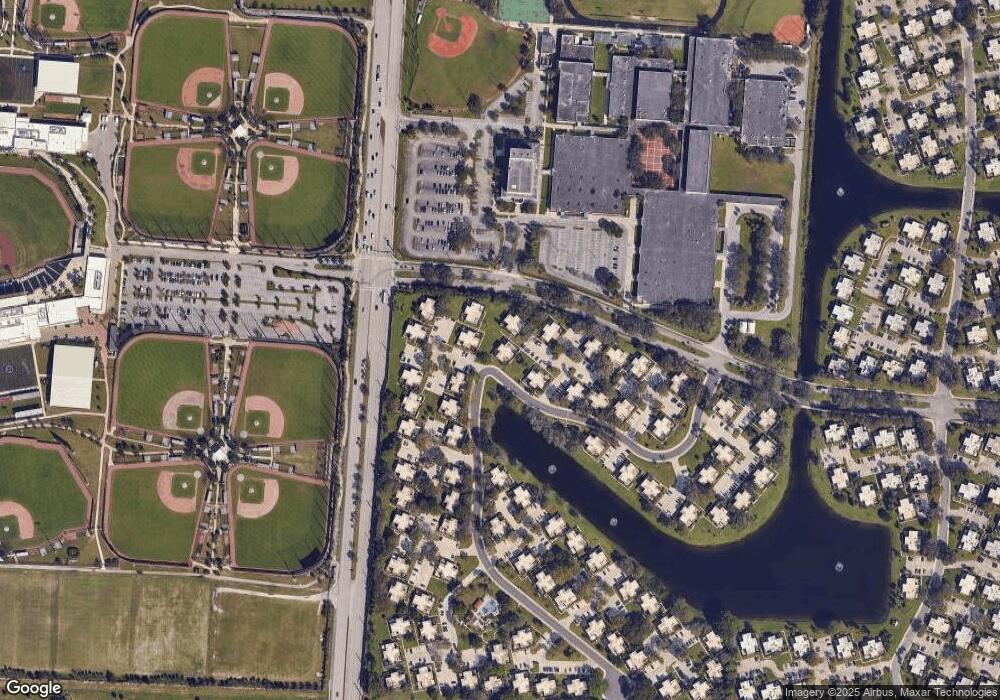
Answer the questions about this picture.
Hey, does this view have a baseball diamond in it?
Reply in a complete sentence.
Yes, there's a baseball diamond here.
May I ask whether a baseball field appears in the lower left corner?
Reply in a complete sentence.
Yes, a baseball field appears in the lower left corner.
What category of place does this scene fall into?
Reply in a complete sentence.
What you see here is a residential area.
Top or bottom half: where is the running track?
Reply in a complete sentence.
The top half of the photo is where the running track is.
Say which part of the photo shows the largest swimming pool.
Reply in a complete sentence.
The largest swimming pool is located in the bottom region of the scene.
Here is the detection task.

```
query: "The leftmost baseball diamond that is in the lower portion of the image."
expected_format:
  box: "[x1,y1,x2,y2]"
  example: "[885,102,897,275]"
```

[0,437,92,554]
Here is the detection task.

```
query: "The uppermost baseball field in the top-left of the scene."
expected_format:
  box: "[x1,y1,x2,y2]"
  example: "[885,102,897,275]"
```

[27,0,138,40]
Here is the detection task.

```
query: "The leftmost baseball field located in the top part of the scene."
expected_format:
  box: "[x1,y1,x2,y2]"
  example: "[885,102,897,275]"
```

[0,166,74,282]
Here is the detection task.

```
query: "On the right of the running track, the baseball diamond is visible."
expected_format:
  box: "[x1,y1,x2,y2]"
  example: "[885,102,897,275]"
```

[722,0,816,51]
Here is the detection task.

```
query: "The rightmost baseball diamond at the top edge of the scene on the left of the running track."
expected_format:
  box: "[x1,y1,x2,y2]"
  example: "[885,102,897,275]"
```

[409,0,522,112]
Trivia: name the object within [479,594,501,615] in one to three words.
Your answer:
swimming pool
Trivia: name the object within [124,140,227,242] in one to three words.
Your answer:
baseball field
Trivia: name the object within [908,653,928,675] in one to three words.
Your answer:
house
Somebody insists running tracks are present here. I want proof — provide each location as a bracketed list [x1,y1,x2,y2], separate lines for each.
[563,0,727,30]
